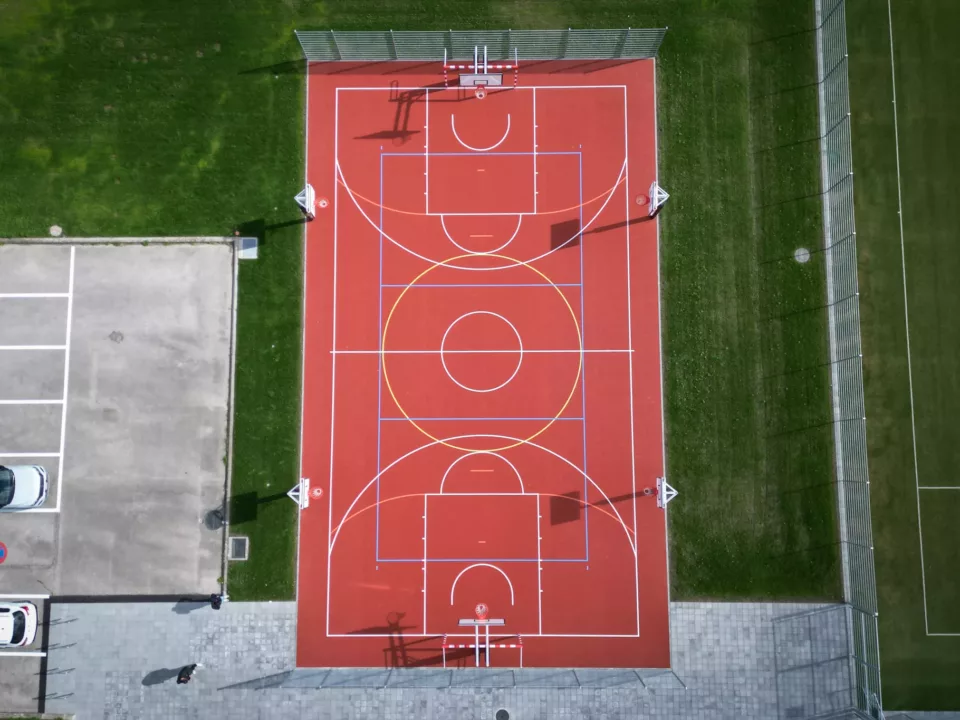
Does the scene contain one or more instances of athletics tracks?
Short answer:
No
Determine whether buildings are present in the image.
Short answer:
No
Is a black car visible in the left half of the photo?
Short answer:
No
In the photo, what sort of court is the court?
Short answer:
basketball court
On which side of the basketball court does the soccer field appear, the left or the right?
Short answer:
to its right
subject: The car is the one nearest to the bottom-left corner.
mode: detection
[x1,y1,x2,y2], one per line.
[0,599,42,648]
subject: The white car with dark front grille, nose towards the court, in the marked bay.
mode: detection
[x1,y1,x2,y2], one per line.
[0,463,51,512]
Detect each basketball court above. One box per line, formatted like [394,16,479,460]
[293,57,672,669]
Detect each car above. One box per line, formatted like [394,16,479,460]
[0,463,51,512]
[0,599,42,648]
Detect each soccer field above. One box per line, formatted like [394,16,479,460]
[820,0,960,712]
